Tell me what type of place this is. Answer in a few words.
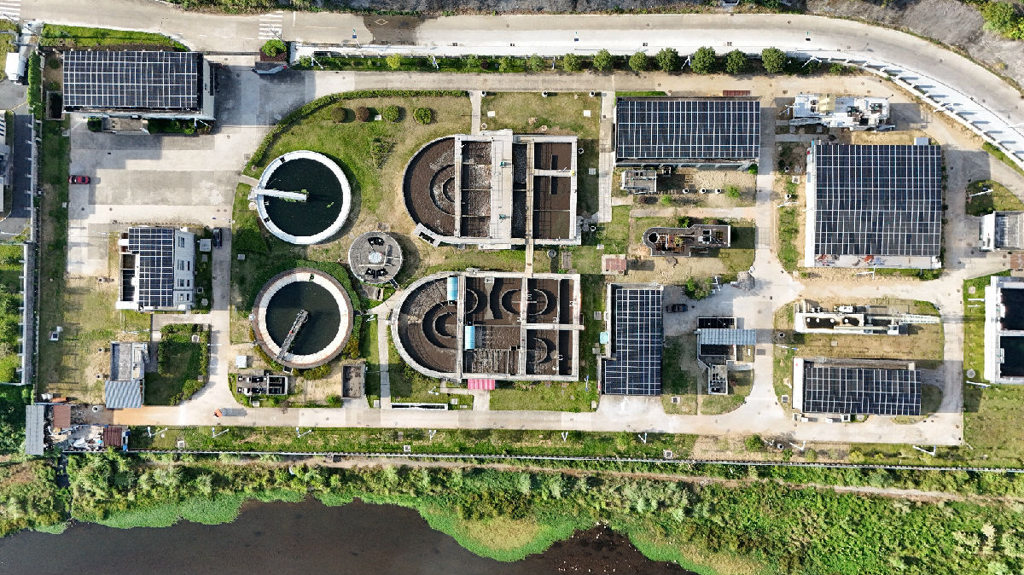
industrial area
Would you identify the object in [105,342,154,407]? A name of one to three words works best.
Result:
shed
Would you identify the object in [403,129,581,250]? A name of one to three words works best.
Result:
water tank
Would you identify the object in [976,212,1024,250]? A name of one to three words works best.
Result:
building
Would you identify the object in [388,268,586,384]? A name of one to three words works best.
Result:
water tank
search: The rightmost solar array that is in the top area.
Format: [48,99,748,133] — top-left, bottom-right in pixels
[815,145,942,256]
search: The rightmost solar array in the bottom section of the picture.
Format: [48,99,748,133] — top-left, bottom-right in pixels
[805,368,921,415]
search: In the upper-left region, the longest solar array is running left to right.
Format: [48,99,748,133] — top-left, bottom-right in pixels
[64,51,197,108]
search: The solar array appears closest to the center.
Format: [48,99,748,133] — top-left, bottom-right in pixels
[605,289,662,395]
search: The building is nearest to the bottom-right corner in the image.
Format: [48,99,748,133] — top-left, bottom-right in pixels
[785,356,921,415]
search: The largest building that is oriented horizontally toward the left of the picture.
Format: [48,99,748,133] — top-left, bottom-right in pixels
[64,51,214,119]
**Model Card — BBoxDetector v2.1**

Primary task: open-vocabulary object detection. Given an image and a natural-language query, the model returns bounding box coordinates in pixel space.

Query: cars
[70,175,91,184]
[212,228,222,248]
[665,304,687,312]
